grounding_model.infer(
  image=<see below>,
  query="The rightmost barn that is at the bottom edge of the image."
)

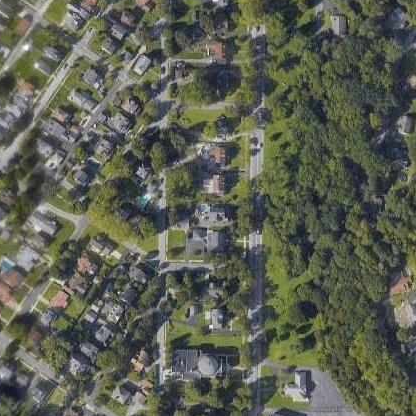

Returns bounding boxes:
[284,370,308,402]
